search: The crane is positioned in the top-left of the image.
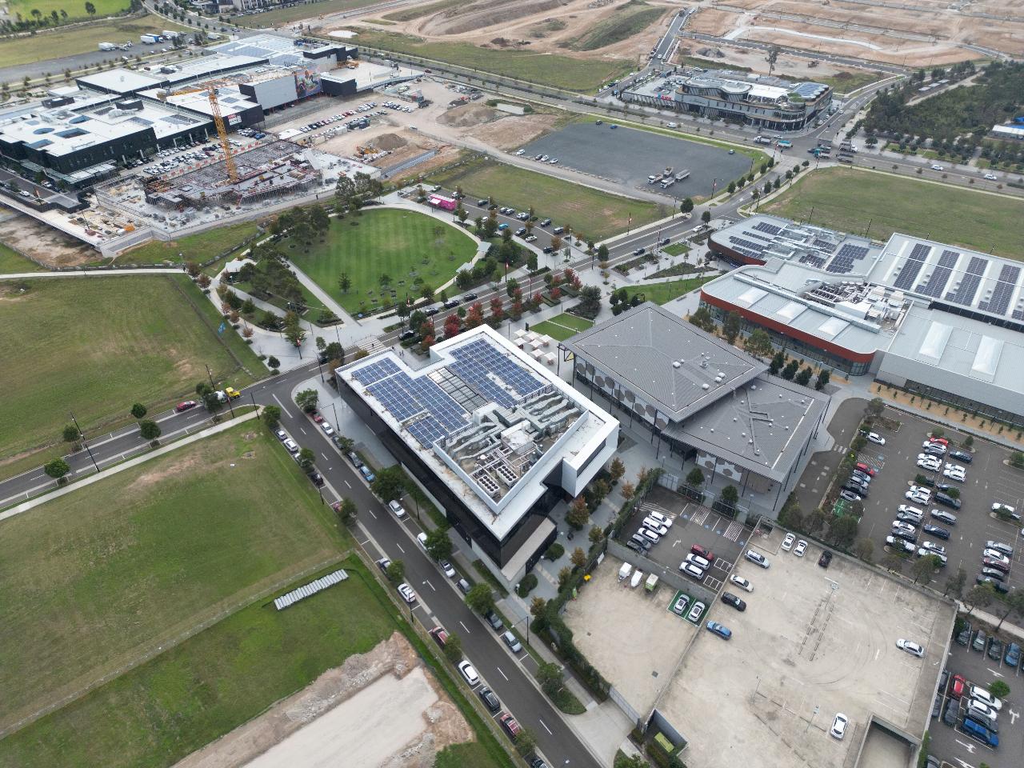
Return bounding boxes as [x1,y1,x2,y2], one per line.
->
[151,64,301,173]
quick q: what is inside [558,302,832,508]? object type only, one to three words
building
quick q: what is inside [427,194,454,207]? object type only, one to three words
vehicle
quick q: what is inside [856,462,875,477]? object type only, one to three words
car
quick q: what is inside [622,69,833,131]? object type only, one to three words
building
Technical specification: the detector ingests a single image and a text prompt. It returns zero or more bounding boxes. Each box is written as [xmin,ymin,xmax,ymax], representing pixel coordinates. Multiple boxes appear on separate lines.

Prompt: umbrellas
[542,352,559,364]
[512,338,529,349]
[530,348,546,361]
[538,335,554,346]
[525,332,541,341]
[527,340,544,349]
[513,329,529,338]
